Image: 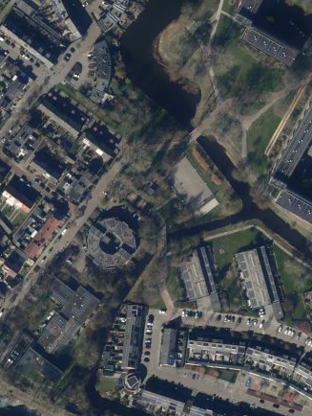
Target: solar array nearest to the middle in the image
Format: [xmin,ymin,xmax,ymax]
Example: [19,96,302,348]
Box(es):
[183,259,204,299]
